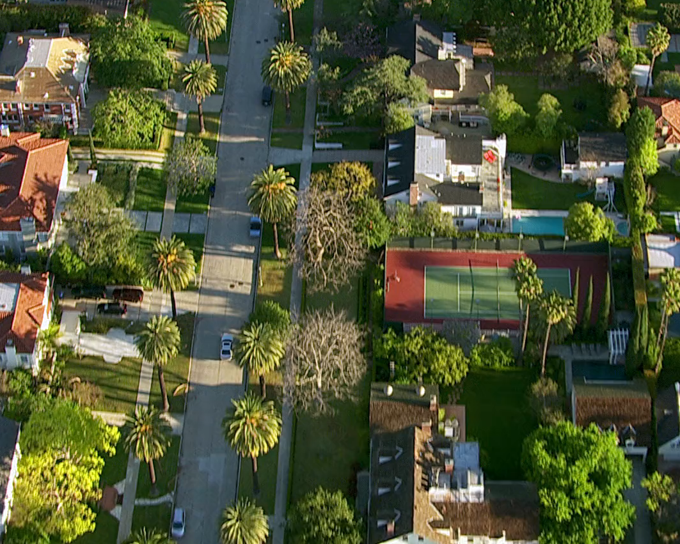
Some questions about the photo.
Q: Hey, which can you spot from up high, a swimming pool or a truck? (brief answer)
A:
swimming pool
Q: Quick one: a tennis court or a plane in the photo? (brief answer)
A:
tennis court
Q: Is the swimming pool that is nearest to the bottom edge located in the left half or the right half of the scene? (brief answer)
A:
right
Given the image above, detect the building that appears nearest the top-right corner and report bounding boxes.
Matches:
[631,64,650,92]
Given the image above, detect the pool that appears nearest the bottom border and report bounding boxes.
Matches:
[570,358,628,379]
